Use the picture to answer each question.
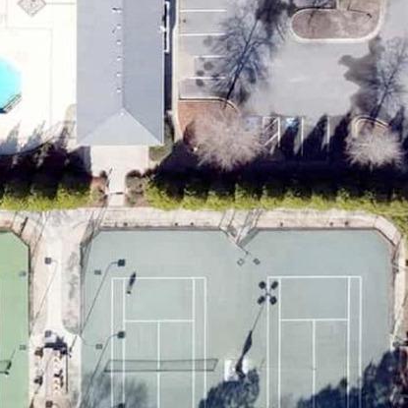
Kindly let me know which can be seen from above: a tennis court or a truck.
tennis court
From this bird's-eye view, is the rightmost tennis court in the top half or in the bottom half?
bottom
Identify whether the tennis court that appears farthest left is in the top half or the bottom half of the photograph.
bottom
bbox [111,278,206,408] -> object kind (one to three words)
tennis court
